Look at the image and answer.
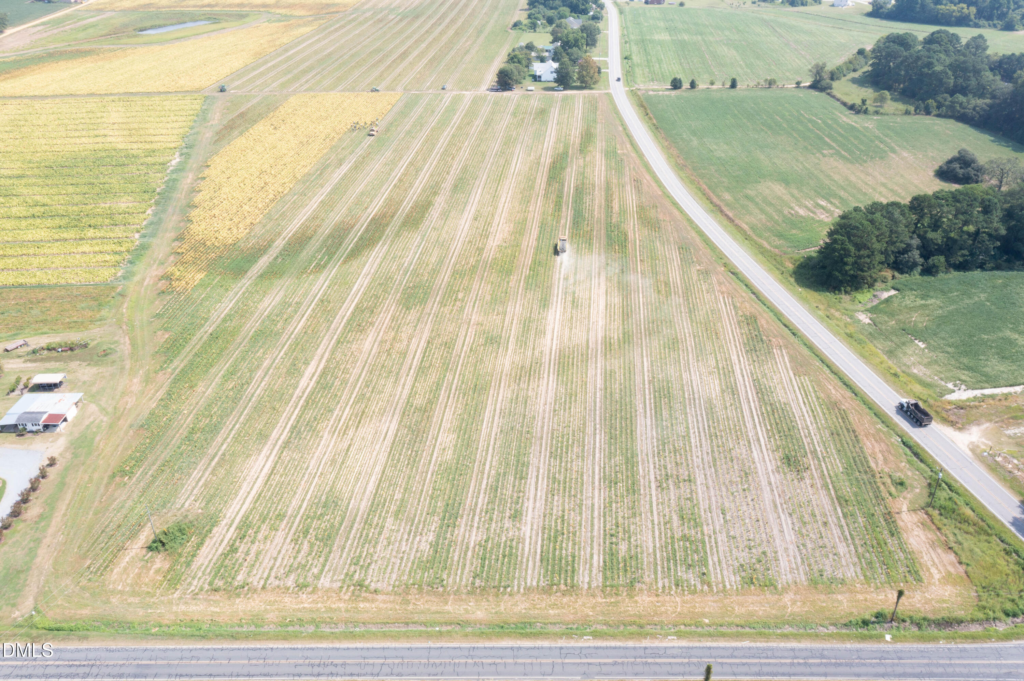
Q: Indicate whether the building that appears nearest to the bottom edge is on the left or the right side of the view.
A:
left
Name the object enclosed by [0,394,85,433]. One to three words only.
building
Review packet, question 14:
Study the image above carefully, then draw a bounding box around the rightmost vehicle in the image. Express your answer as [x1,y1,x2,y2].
[898,400,934,427]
